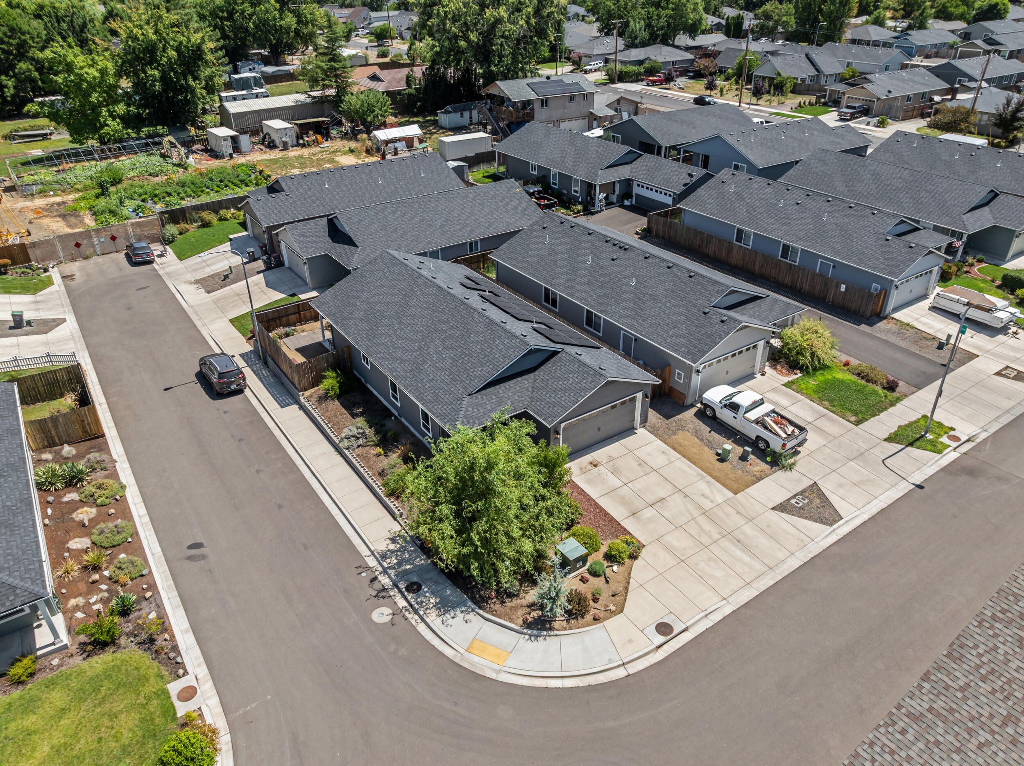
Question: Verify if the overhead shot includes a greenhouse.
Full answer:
Yes, I can see a greenhouse in this picture.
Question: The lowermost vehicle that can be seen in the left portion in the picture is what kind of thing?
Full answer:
The lowermost vehicle that can be seen in the left portion can be classified as an automobile.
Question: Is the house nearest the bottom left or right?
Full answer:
The house nearest the bottom appears in the right half of the scene.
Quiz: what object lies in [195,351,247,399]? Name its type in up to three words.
car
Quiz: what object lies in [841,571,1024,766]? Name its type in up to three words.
house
